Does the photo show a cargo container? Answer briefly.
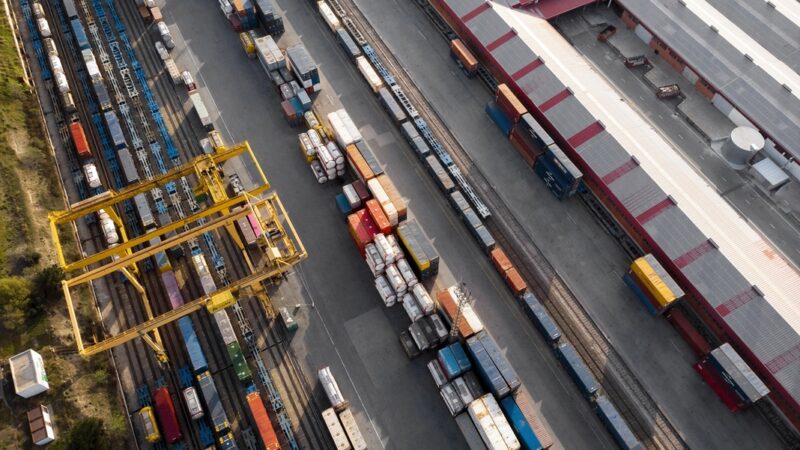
Yes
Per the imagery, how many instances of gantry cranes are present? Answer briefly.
2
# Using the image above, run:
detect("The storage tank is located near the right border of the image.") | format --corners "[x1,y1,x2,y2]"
[721,127,764,162]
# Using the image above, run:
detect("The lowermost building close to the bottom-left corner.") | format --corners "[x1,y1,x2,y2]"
[25,404,52,439]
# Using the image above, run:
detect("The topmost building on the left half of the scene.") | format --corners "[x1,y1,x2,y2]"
[7,348,46,397]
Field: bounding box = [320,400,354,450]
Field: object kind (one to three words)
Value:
shipping container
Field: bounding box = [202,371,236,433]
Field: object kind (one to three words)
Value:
shipping container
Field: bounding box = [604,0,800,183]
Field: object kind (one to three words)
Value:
building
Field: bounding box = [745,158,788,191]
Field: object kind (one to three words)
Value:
shed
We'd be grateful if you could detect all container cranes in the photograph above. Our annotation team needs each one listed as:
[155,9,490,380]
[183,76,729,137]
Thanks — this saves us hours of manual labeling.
[66,195,307,355]
[47,140,271,280]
